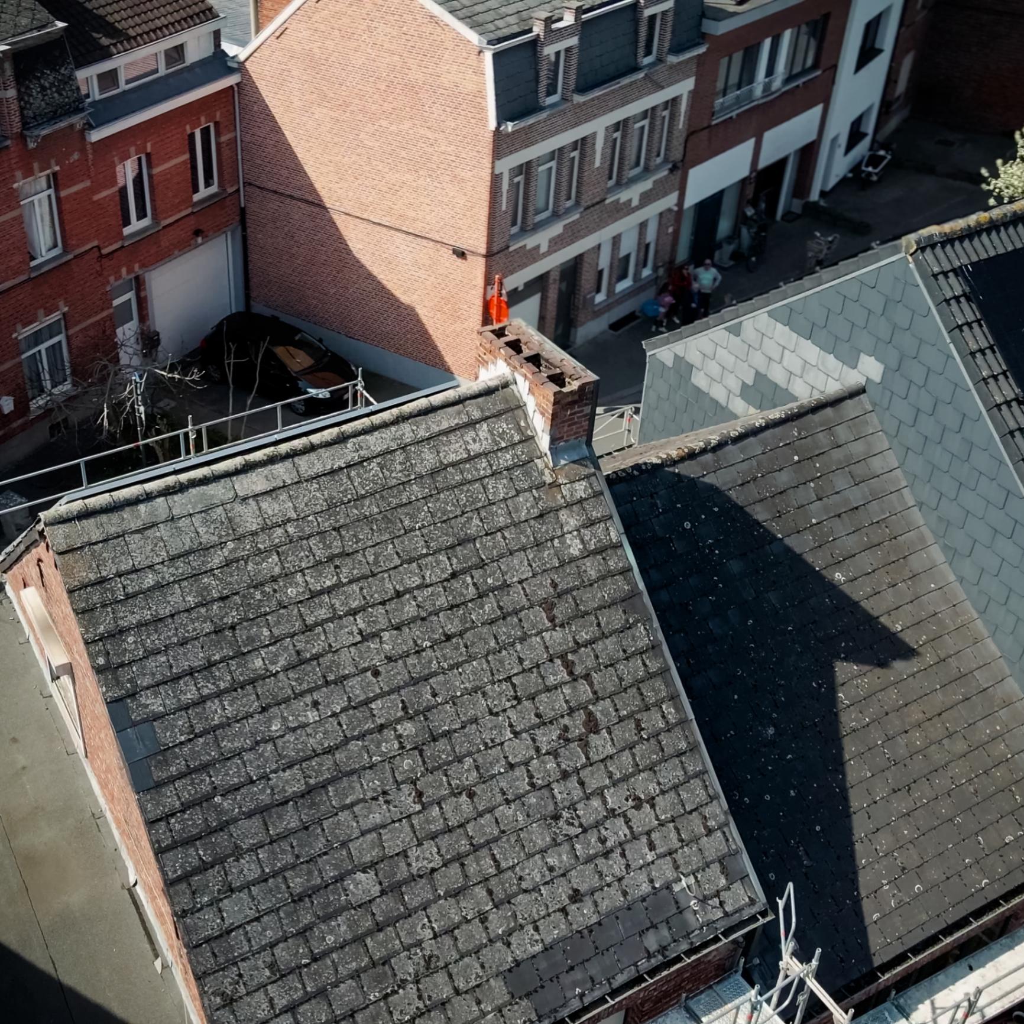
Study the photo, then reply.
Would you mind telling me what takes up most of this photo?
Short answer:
buildings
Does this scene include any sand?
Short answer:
No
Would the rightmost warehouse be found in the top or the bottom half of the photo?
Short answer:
top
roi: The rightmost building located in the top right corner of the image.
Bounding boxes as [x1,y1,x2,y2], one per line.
[903,0,1024,139]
